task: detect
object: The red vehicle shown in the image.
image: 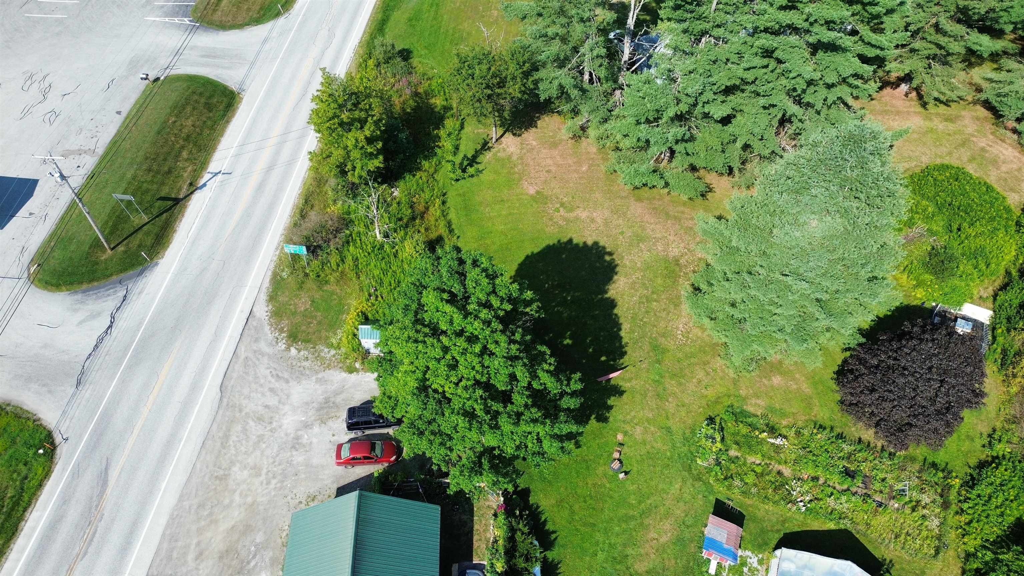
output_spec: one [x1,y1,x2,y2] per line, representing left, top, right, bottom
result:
[334,438,399,470]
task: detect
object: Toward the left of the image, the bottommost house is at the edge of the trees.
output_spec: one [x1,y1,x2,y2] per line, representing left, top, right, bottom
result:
[282,485,441,576]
